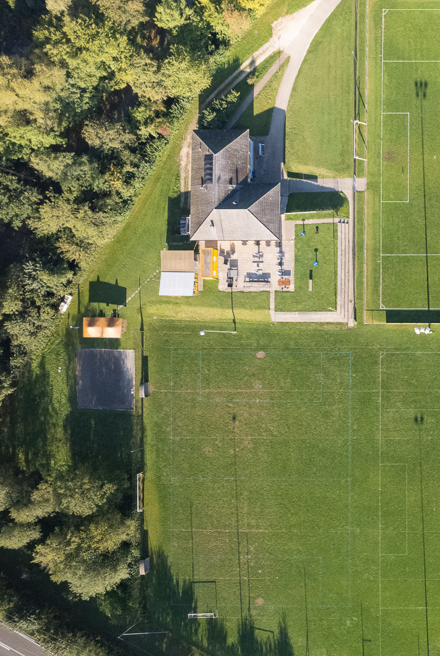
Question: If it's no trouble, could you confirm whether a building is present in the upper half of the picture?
Yes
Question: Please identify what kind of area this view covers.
sports ground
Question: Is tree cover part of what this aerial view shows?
Yes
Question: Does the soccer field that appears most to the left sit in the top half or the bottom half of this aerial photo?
bottom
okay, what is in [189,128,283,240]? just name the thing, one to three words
building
